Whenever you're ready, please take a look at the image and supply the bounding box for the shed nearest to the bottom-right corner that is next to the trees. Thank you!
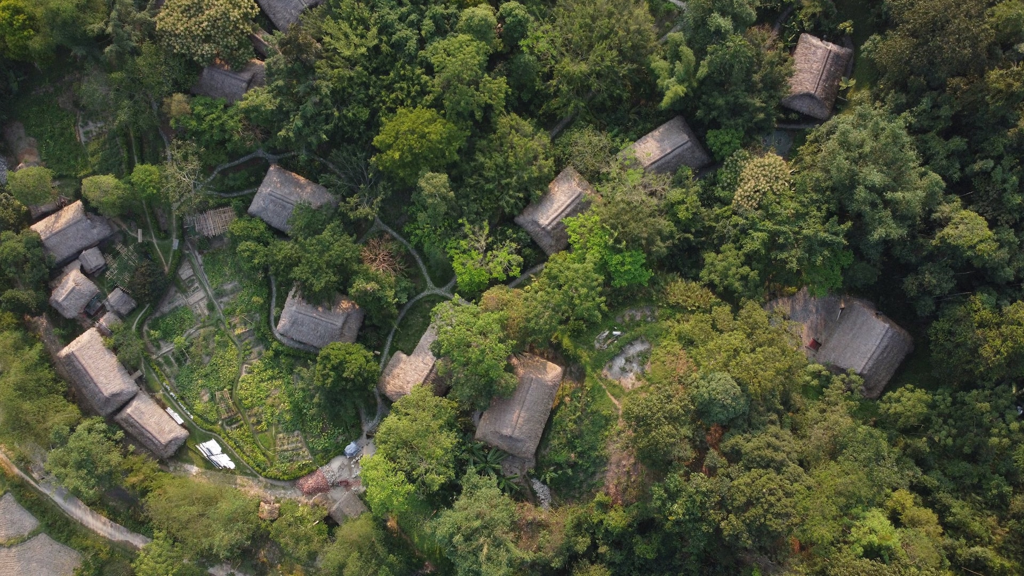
[817,298,914,399]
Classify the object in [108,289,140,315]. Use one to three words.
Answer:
shed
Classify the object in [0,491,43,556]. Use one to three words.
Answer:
shed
